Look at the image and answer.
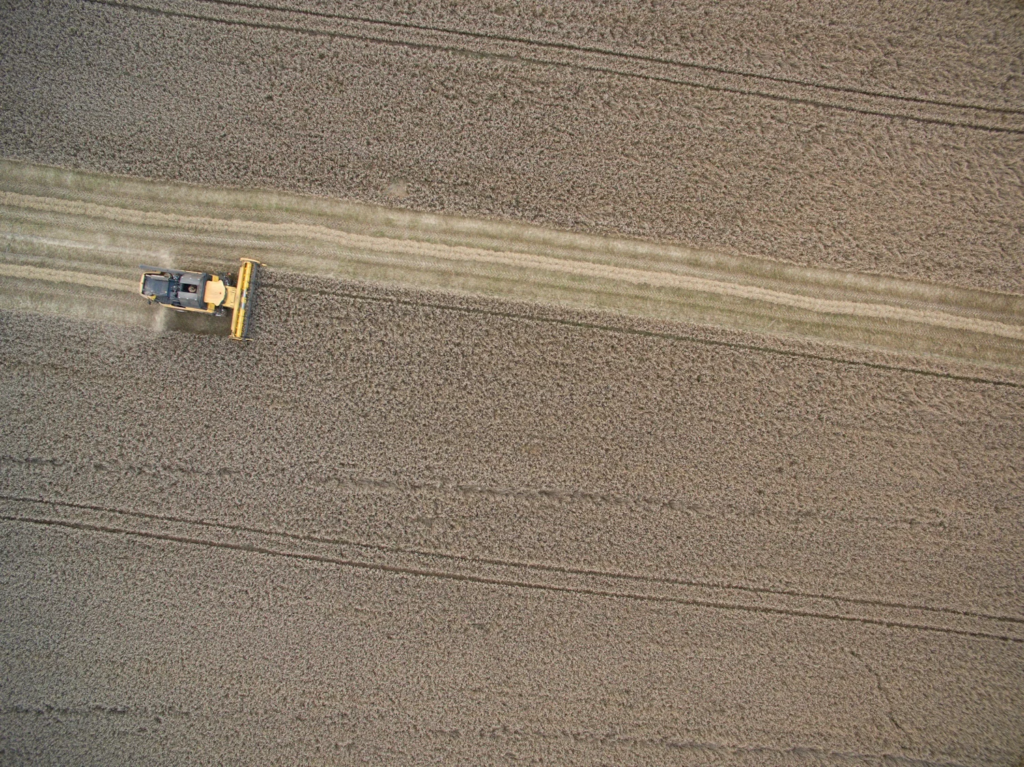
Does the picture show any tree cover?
No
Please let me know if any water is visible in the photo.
No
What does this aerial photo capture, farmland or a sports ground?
farmland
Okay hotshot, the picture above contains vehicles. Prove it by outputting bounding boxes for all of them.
[137,257,269,340]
